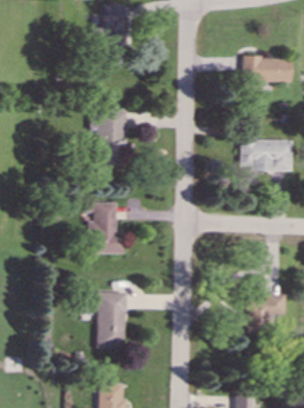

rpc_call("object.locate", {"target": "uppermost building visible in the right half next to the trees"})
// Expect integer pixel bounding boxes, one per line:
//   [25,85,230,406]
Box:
[243,54,294,82]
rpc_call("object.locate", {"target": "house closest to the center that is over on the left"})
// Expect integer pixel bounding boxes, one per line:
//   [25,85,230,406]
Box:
[88,202,126,255]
